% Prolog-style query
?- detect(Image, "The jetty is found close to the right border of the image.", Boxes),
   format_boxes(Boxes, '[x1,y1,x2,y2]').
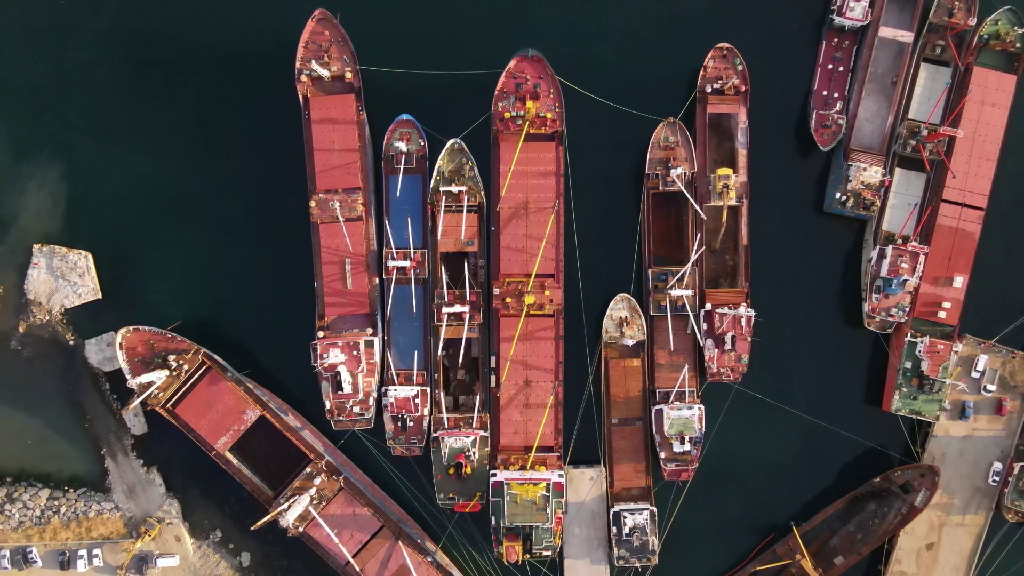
[883,333,1024,576]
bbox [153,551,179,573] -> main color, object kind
white vehicle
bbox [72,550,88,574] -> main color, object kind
white vehicle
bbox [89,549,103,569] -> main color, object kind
white car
